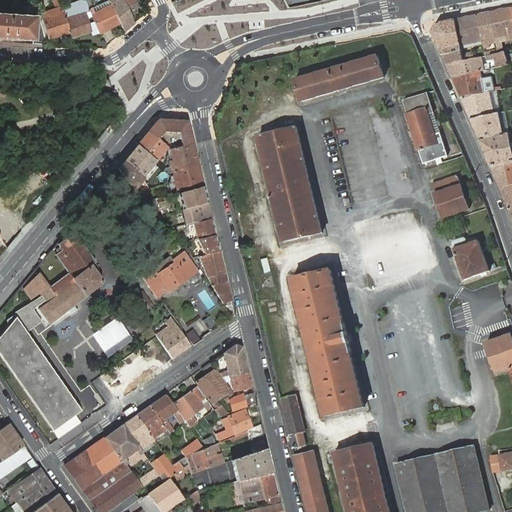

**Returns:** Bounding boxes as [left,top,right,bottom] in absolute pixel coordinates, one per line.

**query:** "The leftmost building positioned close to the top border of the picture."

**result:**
[0,13,42,48]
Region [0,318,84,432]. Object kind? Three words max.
building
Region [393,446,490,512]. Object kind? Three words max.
building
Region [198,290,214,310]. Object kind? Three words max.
swimming pool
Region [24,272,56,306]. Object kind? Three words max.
house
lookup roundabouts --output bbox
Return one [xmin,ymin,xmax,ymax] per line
[154,48,230,112]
